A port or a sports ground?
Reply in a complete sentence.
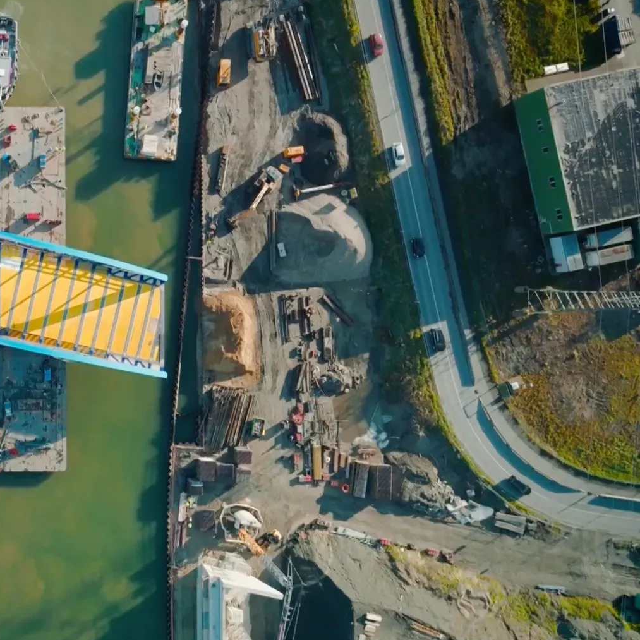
The picture captures a port.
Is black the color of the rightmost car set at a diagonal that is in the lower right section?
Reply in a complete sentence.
Yes, the rightmost car set at a diagonal that is in the lower right section appears black.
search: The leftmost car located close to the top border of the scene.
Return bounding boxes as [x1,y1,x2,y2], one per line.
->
[366,32,382,60]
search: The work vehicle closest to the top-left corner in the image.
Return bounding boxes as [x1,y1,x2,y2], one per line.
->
[229,157,290,230]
